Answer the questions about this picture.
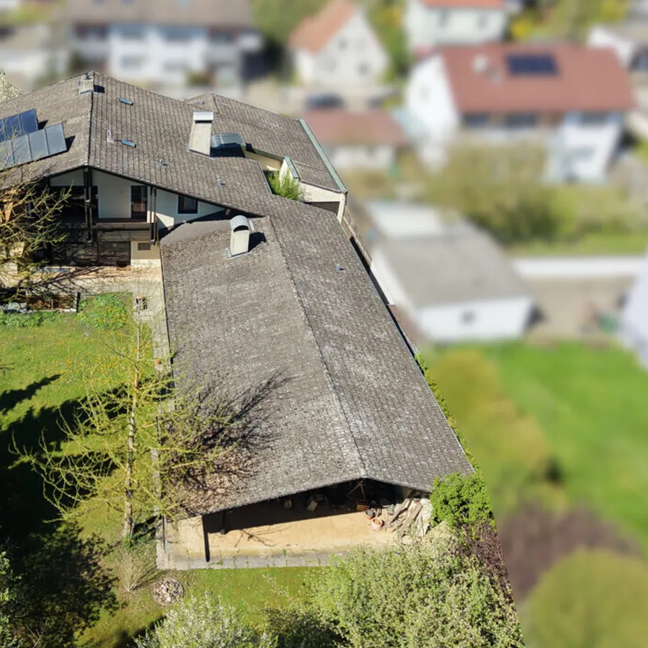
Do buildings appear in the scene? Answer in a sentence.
Yes, looking at the shot, I can spot a building.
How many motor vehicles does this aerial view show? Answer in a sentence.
Looking from above, you can make out 2 motor vehicles.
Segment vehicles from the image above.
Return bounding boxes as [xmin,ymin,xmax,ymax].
[297,86,354,109]
[351,84,408,109]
